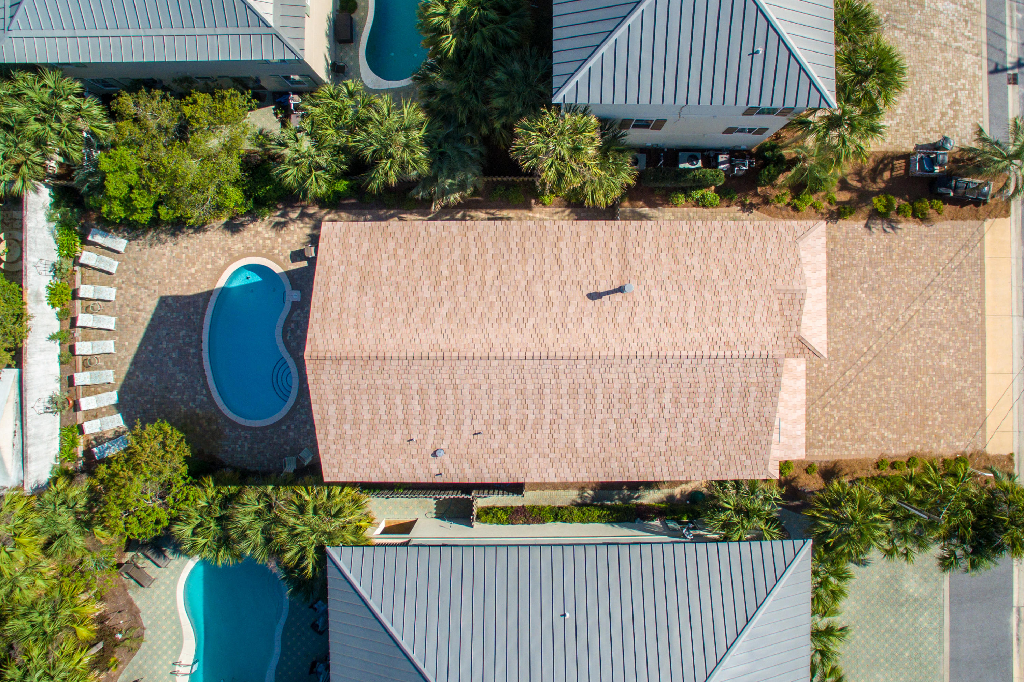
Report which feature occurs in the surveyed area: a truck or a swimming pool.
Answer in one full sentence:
Of the two, only a swimming pool appears.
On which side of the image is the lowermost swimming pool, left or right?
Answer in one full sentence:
The lowermost swimming pool sits on the left side.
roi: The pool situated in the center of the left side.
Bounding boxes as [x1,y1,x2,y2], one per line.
[201,257,300,427]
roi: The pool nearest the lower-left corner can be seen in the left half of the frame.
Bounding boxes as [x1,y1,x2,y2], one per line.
[168,543,291,682]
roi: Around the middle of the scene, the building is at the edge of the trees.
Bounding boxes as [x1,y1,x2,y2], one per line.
[303,219,828,484]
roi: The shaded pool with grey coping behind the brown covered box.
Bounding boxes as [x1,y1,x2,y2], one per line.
[358,0,442,87]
